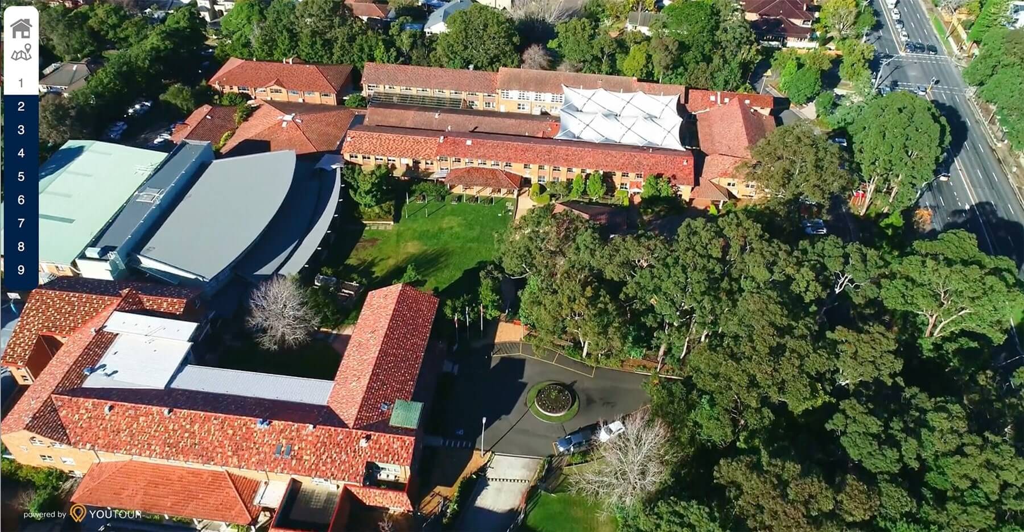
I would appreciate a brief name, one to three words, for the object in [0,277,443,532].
building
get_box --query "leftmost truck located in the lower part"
[557,423,594,448]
